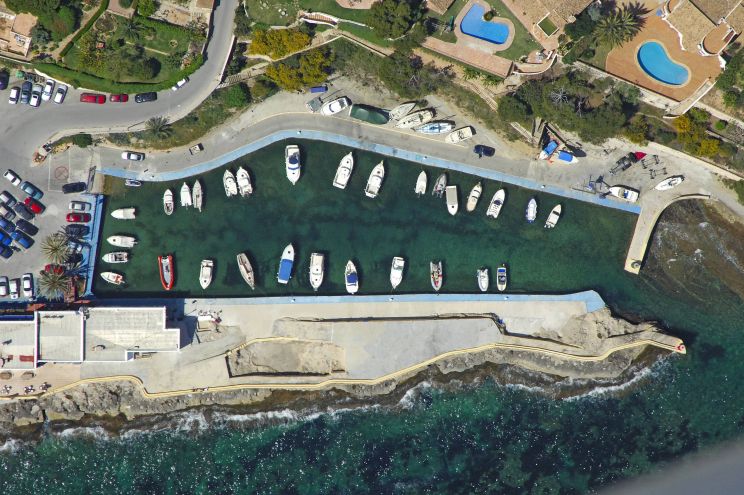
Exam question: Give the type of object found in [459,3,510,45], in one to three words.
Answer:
swimming pool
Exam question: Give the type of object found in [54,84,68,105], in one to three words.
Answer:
vehicle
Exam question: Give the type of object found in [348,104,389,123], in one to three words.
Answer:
boat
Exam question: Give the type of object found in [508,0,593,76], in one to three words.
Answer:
house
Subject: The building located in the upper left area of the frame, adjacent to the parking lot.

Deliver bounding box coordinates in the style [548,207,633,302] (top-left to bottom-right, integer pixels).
[0,12,33,57]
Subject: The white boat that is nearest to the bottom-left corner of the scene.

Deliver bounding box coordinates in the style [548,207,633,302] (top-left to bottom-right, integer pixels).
[90,272,126,285]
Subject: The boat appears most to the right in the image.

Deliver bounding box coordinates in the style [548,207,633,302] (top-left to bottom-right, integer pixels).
[655,174,684,188]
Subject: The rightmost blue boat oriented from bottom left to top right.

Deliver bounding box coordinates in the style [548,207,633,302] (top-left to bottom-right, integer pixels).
[541,138,559,160]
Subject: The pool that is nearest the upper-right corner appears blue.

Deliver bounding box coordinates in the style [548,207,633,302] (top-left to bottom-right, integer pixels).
[635,40,690,87]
